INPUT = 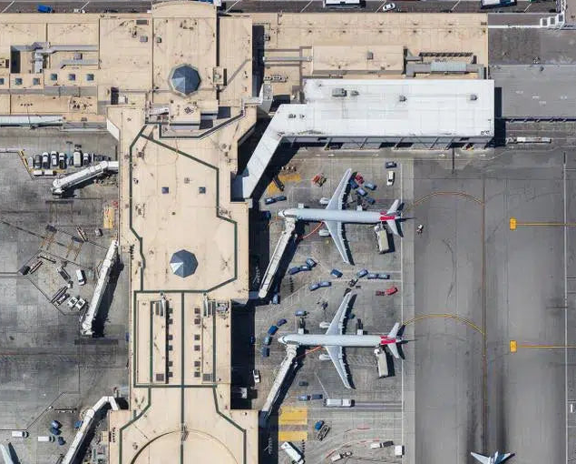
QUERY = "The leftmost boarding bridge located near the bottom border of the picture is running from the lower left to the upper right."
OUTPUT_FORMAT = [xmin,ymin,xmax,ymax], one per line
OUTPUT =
[60,393,123,464]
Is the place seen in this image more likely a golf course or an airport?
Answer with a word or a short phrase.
airport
